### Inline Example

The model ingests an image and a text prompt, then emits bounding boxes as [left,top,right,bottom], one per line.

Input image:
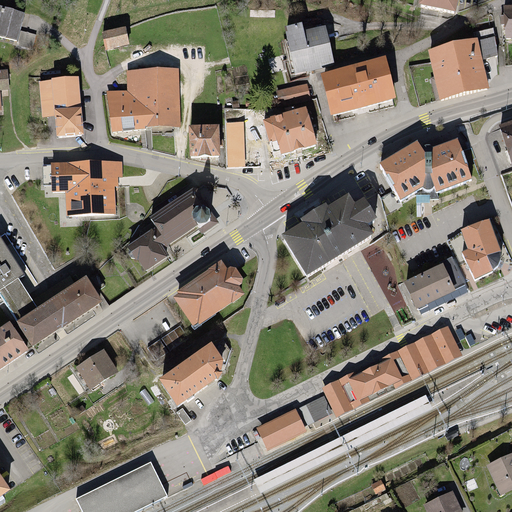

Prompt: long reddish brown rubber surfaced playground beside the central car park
[362,240,407,311]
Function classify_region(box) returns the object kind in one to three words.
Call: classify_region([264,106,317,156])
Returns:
house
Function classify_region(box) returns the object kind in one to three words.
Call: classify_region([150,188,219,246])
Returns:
building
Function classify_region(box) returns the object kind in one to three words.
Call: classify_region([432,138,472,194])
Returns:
house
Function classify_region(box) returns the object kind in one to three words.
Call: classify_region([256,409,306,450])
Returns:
shed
